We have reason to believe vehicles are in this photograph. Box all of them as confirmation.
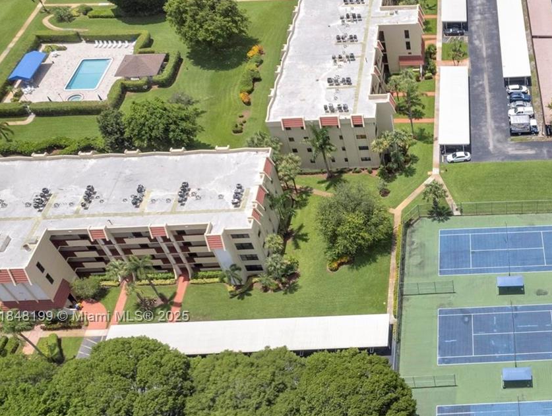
[508,114,539,132]
[537,127,552,138]
[508,107,536,118]
[509,94,531,103]
[447,151,472,163]
[507,84,528,95]
[444,25,464,35]
[509,100,529,110]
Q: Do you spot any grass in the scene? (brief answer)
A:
Yes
